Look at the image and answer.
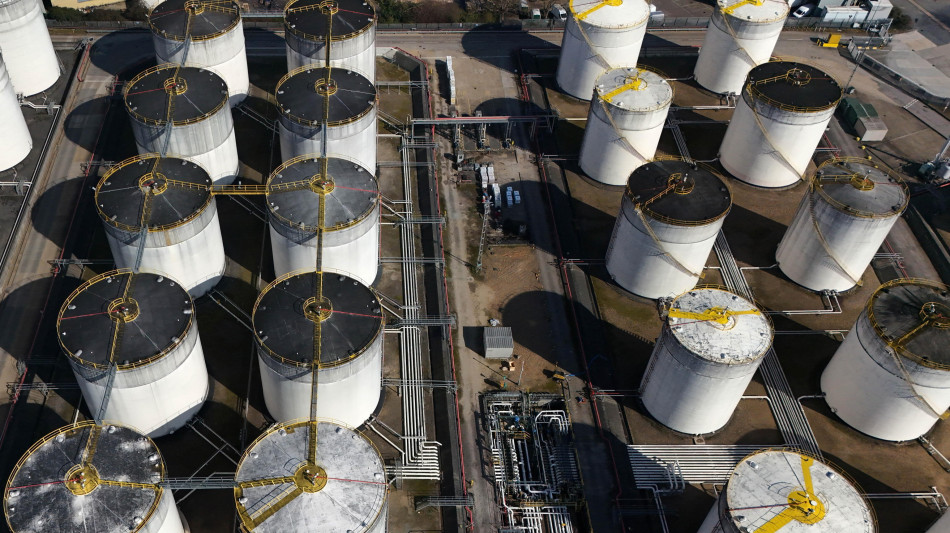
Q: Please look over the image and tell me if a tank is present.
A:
Yes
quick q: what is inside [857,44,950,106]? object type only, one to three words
building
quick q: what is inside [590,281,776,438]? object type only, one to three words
storage tank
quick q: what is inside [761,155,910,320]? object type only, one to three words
storage tank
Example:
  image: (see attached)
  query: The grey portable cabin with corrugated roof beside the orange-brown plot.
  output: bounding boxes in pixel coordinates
[483,328,515,358]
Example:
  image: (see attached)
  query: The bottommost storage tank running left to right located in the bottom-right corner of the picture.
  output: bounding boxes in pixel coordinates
[695,444,879,533]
